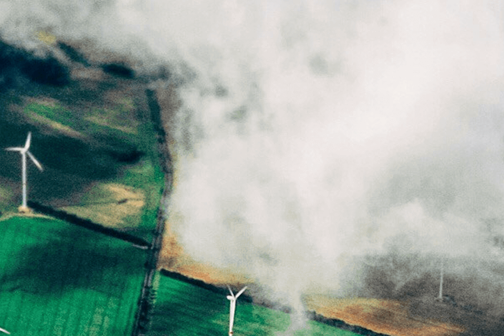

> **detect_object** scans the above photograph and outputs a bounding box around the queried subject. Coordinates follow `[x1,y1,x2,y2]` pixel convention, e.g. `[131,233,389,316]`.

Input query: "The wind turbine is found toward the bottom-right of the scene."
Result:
[424,225,461,300]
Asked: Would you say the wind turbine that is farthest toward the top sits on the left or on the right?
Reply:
left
